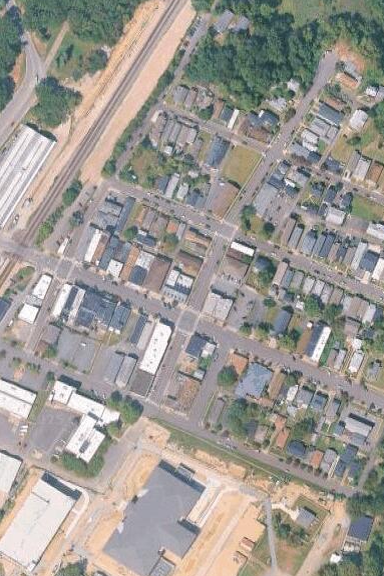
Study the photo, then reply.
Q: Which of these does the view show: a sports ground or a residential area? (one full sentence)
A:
The picture captures a residential area.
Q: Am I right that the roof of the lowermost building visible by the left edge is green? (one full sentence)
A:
No, the color of the roof of the lowermost building visible by the left edge is white.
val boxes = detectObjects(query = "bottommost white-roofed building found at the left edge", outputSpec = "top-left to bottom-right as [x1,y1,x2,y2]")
[0,477,78,570]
